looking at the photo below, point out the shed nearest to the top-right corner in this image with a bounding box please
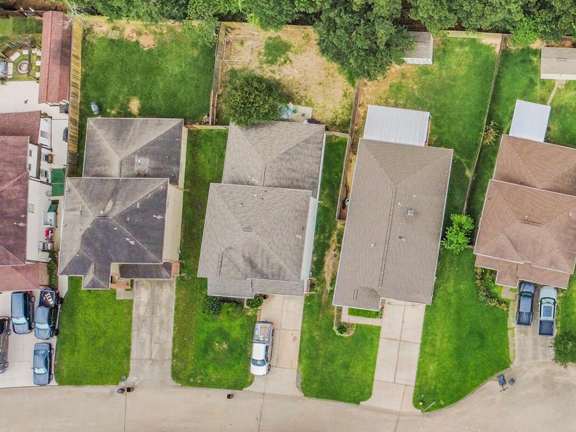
[541,47,576,76]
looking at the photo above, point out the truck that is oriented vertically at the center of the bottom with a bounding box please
[250,321,274,375]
